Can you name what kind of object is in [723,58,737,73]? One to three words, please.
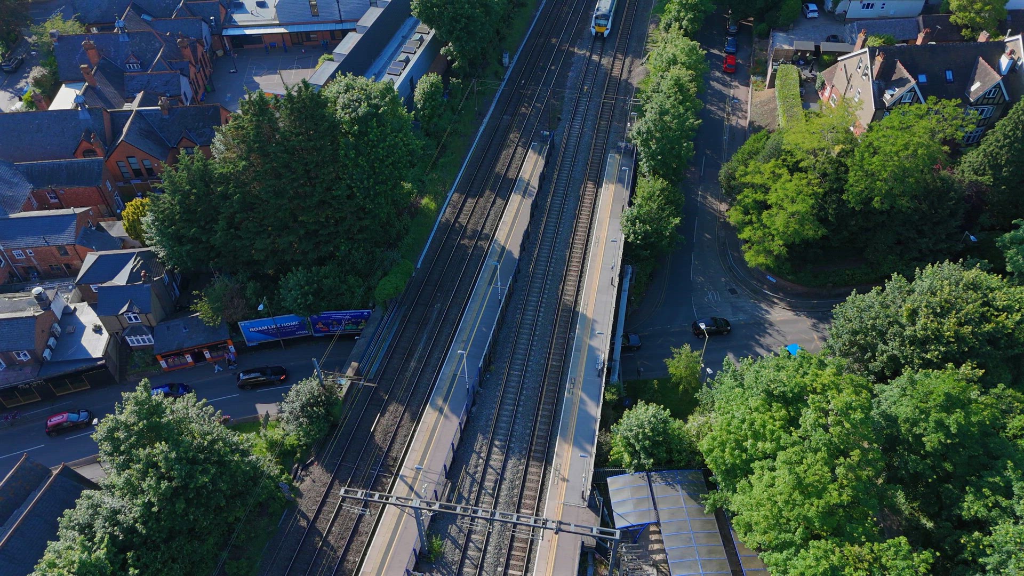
car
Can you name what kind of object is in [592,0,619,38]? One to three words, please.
train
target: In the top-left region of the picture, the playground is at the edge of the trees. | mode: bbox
[218,42,340,126]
